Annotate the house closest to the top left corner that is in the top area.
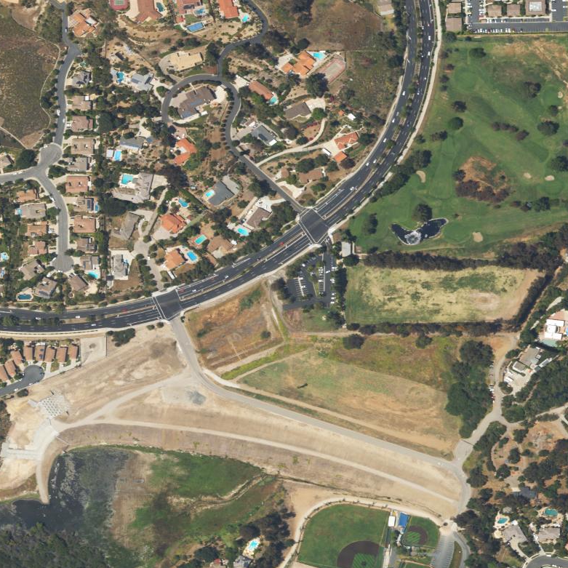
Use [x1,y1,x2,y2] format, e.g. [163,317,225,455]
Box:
[68,8,94,37]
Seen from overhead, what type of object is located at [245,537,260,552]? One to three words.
swimming pool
